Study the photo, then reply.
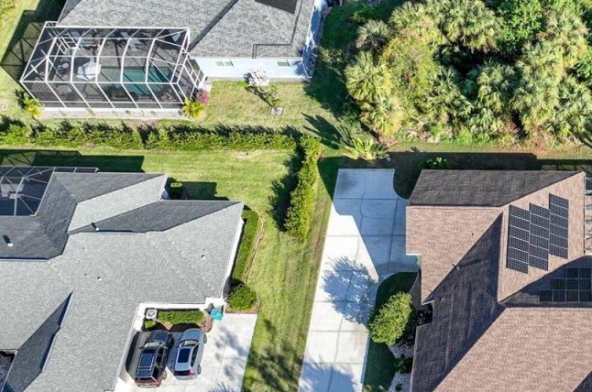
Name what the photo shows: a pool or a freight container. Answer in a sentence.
It is a pool that can be seen here.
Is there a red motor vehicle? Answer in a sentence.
No, the picture doesn't show any red motor vehicle.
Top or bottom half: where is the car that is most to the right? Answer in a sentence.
The car that is most to the right sits in the bottom half of the picture.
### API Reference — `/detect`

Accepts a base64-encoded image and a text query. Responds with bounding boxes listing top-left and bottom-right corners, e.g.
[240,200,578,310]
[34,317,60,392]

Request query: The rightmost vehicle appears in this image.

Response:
[167,328,211,385]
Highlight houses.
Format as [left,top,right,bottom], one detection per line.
[57,0,326,78]
[405,170,592,392]
[0,172,250,392]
